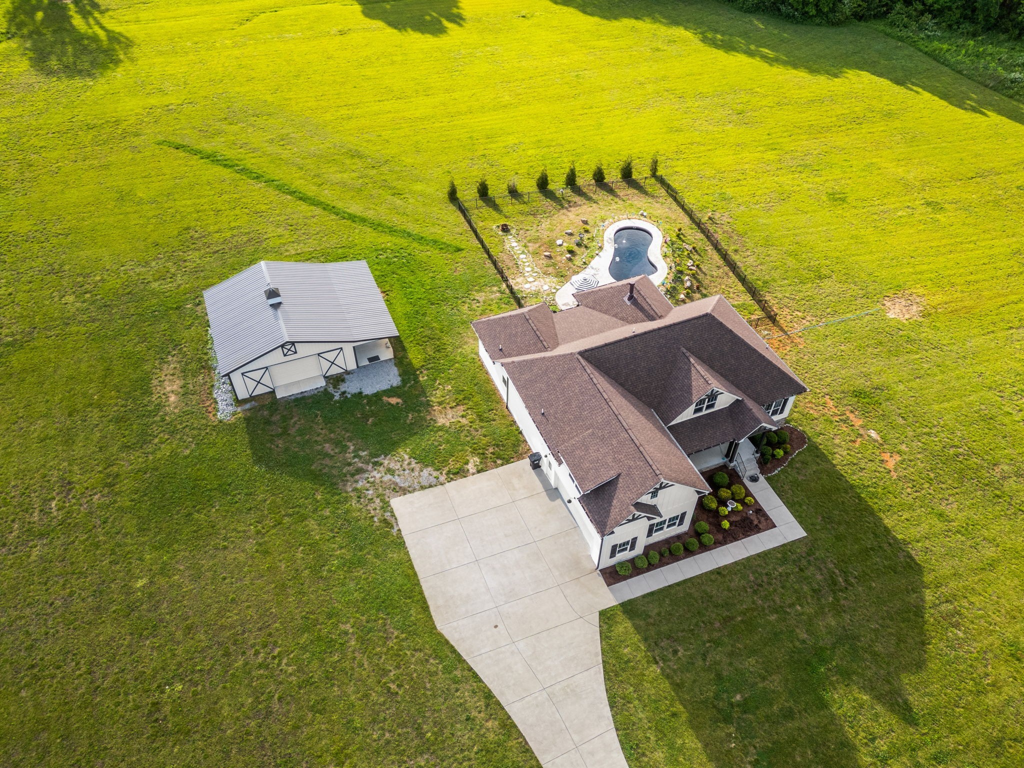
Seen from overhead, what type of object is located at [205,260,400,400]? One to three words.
barn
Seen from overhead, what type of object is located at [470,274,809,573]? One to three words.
house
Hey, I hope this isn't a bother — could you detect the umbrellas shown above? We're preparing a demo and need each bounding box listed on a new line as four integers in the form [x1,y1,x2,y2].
[570,273,599,290]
